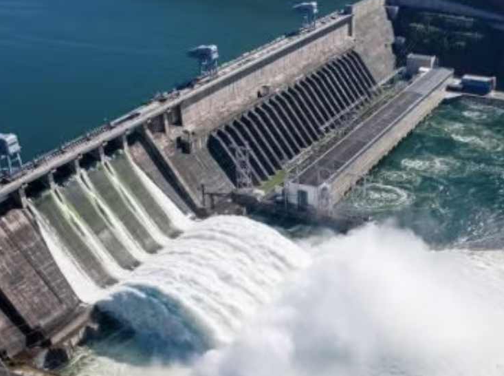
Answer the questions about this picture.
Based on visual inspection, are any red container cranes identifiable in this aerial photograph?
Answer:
No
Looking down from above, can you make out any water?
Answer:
Yes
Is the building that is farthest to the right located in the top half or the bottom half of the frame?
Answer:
top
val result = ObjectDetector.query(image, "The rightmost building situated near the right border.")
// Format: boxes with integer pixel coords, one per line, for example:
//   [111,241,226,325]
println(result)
[463,73,494,96]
